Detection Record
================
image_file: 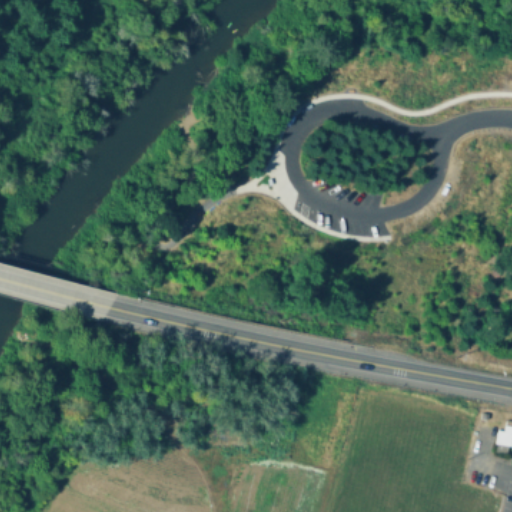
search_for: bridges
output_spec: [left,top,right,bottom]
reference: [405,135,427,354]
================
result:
[0,262,117,322]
